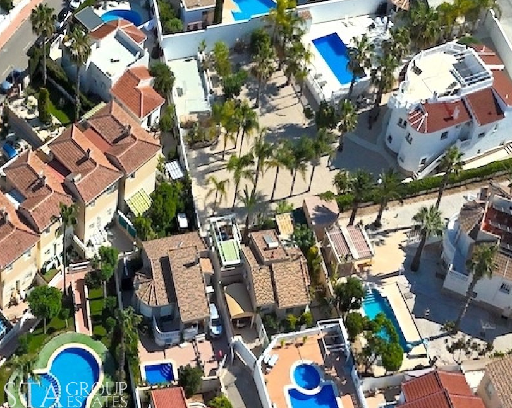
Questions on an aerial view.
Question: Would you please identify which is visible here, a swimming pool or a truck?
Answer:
swimming pool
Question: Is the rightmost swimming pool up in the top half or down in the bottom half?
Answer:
bottom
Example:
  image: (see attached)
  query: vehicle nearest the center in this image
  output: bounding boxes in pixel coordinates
[207,303,224,333]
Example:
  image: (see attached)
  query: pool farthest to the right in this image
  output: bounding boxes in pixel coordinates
[359,284,411,355]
